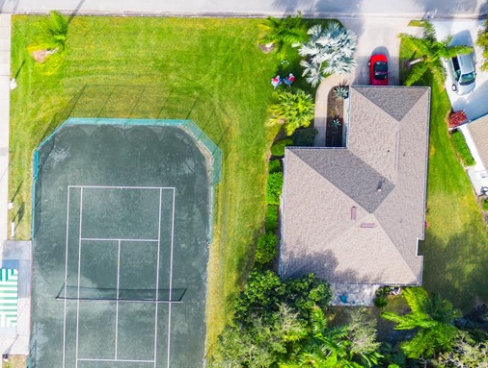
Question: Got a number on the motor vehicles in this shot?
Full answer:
In total, 2 motor vehicles can be seen.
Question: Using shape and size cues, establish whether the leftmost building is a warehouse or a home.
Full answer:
Looking closely, the leftmost building is a home.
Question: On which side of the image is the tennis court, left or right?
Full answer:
You can find the tennis court on the left side of the picture.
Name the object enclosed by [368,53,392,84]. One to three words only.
car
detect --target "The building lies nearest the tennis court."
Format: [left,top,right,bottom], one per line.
[273,83,431,288]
